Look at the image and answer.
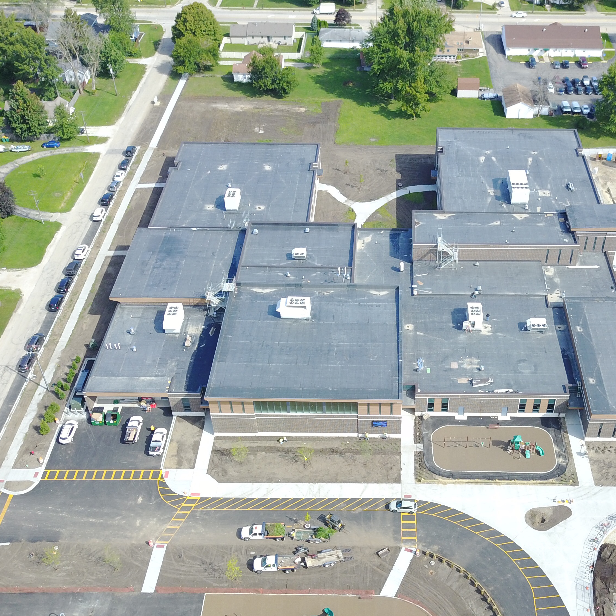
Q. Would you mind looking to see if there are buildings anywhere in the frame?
Yes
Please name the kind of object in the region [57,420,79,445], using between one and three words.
car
